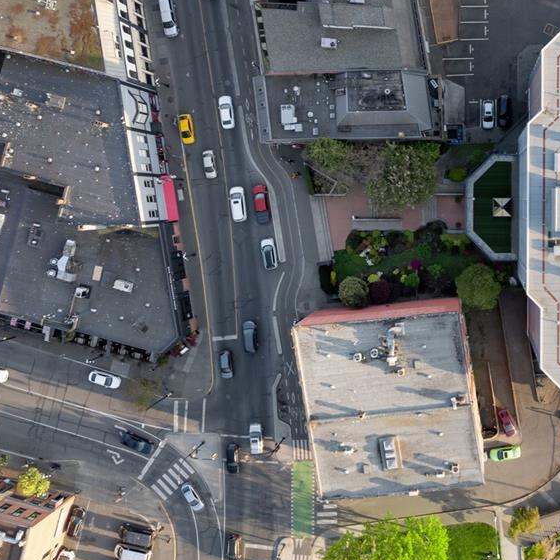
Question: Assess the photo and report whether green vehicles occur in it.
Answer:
Yes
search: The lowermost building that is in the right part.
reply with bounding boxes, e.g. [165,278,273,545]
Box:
[292,299,487,497]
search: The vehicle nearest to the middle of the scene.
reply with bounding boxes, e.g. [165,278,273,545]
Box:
[260,237,280,271]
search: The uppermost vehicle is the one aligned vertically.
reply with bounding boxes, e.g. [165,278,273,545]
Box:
[158,0,181,40]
